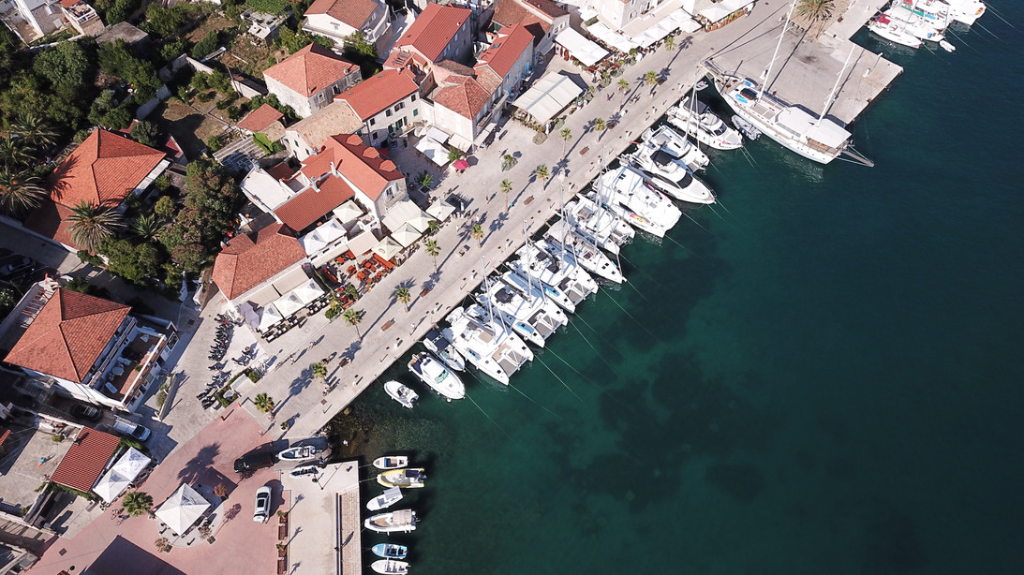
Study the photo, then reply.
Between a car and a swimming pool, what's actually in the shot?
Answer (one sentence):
Visible in the photo is a car.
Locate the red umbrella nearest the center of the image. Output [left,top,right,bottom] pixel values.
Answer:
[454,160,469,176]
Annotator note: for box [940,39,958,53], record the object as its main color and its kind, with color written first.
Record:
white boat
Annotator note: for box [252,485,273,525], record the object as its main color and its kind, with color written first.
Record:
white car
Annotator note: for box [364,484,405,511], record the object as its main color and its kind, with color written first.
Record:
white boat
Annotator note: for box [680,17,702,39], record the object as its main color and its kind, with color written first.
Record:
white umbrella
